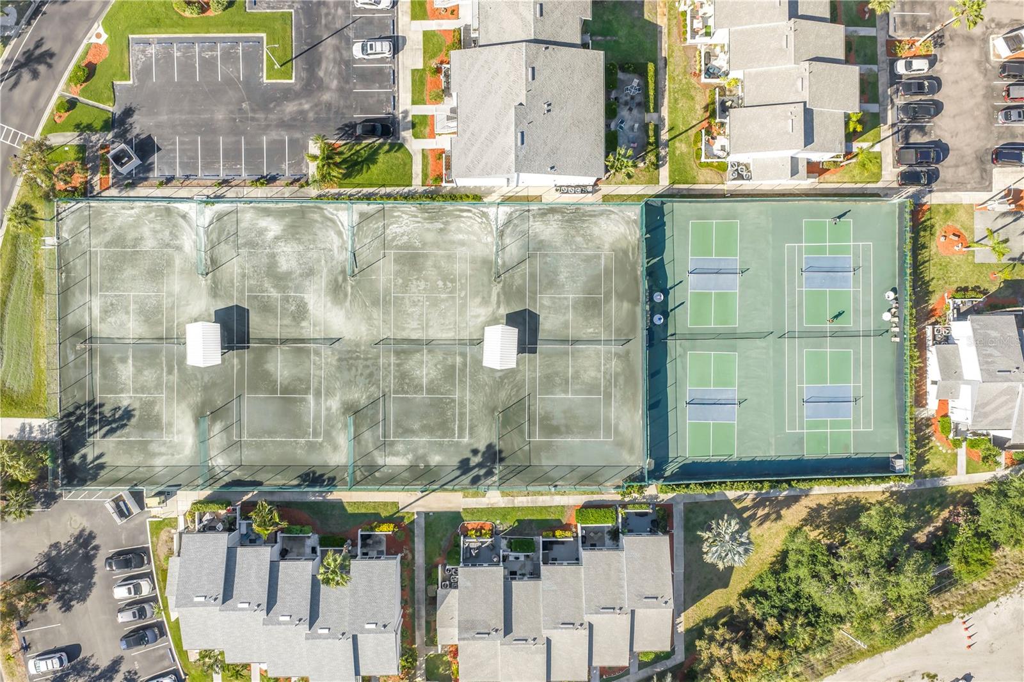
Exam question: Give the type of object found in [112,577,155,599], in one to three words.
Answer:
car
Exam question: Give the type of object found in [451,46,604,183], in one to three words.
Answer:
building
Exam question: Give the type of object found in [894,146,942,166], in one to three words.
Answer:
vehicle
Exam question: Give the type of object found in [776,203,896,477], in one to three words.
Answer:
tennis court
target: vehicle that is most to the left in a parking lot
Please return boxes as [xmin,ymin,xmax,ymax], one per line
[29,651,71,674]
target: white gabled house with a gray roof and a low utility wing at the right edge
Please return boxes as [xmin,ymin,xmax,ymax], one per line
[928,315,1024,447]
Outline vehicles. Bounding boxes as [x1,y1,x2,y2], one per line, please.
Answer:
[29,651,71,674]
[989,146,1024,166]
[116,600,156,623]
[355,121,395,140]
[353,39,393,59]
[894,146,942,166]
[892,58,930,76]
[896,103,936,121]
[895,167,934,185]
[995,107,1024,125]
[112,577,155,599]
[1001,86,1024,104]
[119,625,163,649]
[897,78,937,97]
[105,551,150,572]
[995,61,1024,80]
